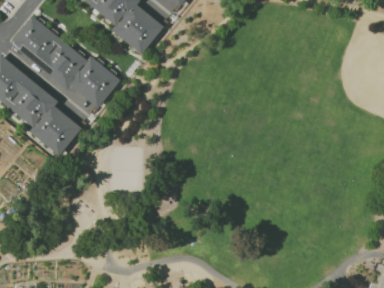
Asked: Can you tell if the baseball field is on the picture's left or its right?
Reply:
right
